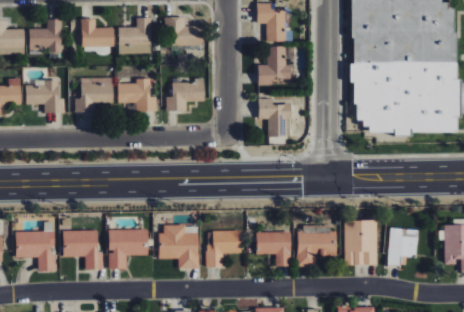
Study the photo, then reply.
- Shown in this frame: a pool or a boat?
pool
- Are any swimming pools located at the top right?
No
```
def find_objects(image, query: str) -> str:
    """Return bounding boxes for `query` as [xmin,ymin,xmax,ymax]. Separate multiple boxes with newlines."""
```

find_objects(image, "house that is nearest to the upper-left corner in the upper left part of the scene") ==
[0,18,24,54]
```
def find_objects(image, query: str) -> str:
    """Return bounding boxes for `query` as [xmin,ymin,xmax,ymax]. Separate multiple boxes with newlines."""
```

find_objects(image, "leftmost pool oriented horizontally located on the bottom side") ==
[14,218,55,232]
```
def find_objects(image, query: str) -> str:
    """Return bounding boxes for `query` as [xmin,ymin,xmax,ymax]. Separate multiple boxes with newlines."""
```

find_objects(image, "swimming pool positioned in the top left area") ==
[22,68,48,84]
